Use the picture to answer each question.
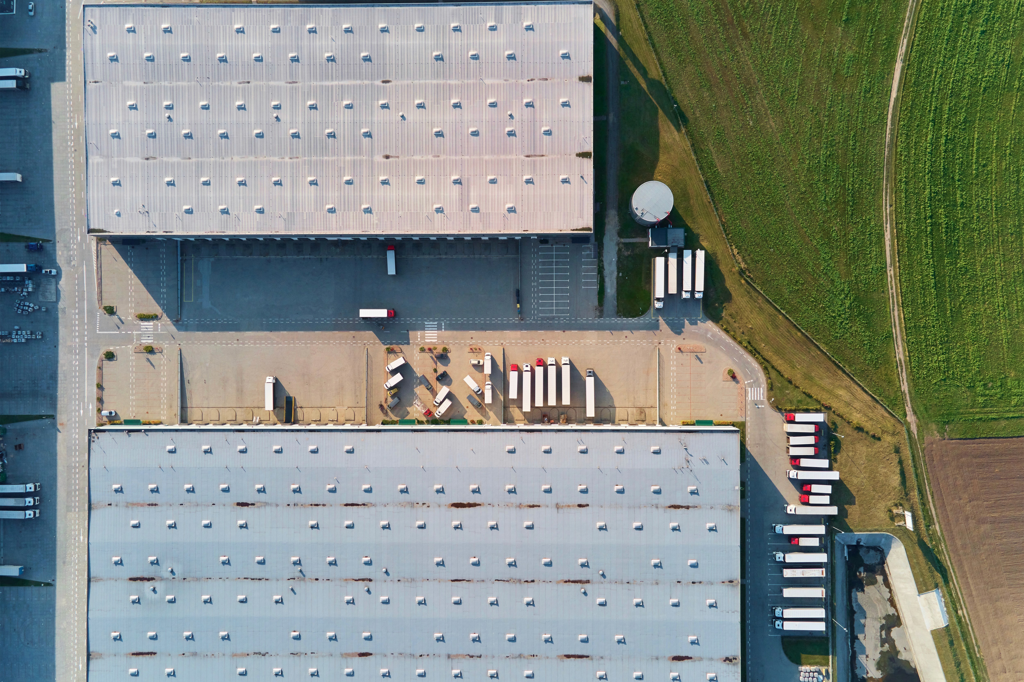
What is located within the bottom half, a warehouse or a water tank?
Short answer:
warehouse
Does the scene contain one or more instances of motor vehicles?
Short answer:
Yes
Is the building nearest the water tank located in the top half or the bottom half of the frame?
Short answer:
top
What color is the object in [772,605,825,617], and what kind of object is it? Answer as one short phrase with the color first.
white vehicle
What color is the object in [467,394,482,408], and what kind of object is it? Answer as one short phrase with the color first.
gray vehicle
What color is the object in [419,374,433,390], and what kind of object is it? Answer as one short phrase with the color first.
gray vehicle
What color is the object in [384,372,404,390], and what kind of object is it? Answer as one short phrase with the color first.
white vehicle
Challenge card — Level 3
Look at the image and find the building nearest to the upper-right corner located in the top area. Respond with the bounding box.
[648,224,686,247]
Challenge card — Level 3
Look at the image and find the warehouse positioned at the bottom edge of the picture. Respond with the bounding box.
[86,418,741,682]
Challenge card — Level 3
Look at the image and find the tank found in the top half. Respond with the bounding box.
[629,180,673,227]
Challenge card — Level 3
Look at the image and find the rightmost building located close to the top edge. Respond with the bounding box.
[81,0,593,245]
